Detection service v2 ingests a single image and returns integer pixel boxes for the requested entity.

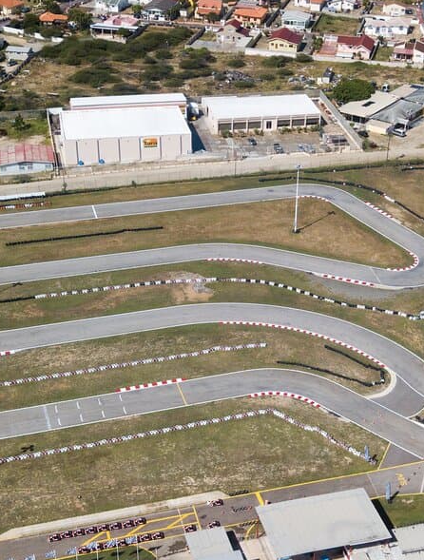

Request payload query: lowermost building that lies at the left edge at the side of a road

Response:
[0,140,55,176]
